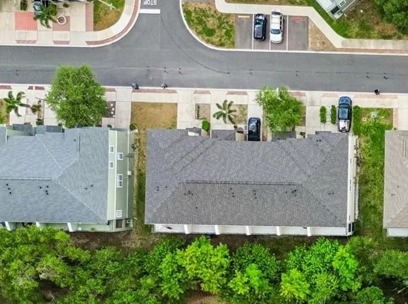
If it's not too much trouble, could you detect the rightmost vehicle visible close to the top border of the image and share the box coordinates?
[268,8,285,44]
